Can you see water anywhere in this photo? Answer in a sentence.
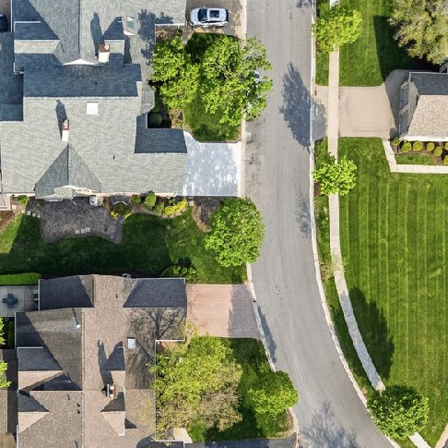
No, water can't be seen anywhere here.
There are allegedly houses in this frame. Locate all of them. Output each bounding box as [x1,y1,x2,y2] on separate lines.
[397,2,448,143]
[0,0,187,202]
[0,274,187,448]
